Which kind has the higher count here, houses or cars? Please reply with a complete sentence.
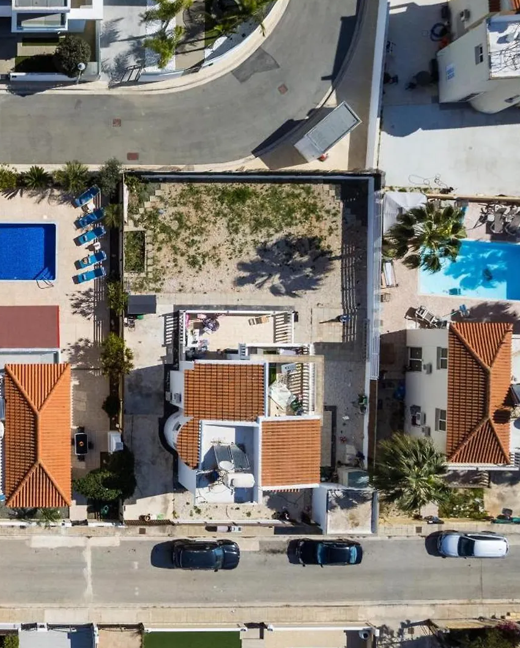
The image shows a greater number of houses than of cars.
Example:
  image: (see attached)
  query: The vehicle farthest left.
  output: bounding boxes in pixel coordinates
[172,538,239,572]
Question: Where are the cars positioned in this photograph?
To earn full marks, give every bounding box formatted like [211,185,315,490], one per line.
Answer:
[172,538,239,572]
[295,536,363,569]
[436,529,510,562]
